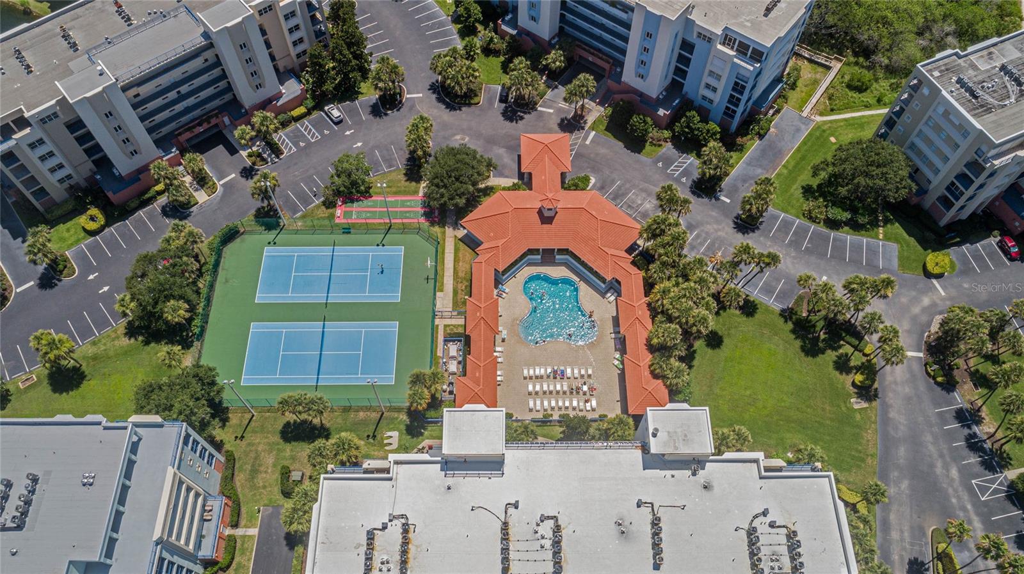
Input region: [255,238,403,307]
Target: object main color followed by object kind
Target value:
blue tennis court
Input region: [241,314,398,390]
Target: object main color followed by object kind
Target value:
blue tennis court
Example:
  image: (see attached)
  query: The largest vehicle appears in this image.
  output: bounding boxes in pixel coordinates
[997,237,1023,262]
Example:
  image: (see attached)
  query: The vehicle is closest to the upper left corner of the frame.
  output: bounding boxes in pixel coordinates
[325,106,344,125]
